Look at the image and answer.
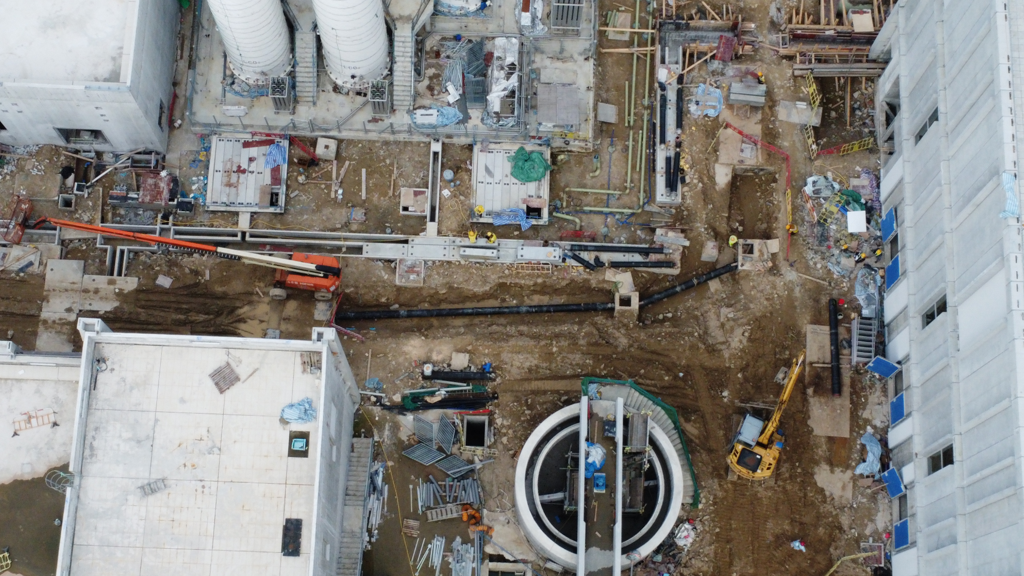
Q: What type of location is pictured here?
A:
industrial area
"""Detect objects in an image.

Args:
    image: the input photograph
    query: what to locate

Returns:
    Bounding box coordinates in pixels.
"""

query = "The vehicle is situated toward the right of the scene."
[727,345,807,481]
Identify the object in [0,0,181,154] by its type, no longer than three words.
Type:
building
